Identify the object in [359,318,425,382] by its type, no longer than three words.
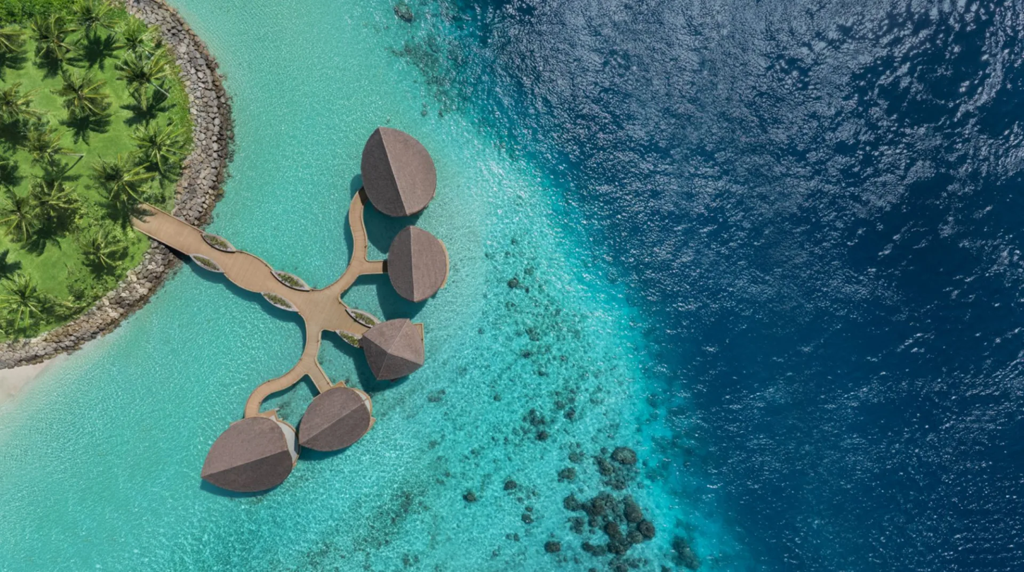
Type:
house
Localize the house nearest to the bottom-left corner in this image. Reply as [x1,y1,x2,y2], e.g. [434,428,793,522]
[201,407,301,492]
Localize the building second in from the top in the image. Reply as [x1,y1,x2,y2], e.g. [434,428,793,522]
[388,225,449,303]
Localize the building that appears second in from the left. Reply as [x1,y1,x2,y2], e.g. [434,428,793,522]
[299,382,376,452]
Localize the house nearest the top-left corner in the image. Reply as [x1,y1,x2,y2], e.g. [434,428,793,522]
[361,126,437,216]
